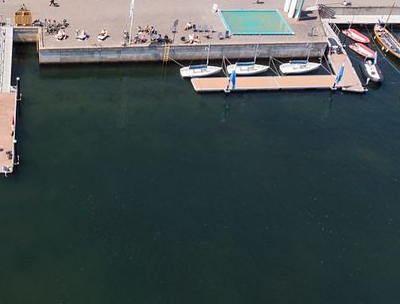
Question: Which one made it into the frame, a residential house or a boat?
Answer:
boat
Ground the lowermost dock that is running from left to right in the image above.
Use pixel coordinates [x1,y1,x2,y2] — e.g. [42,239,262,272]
[192,77,332,94]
